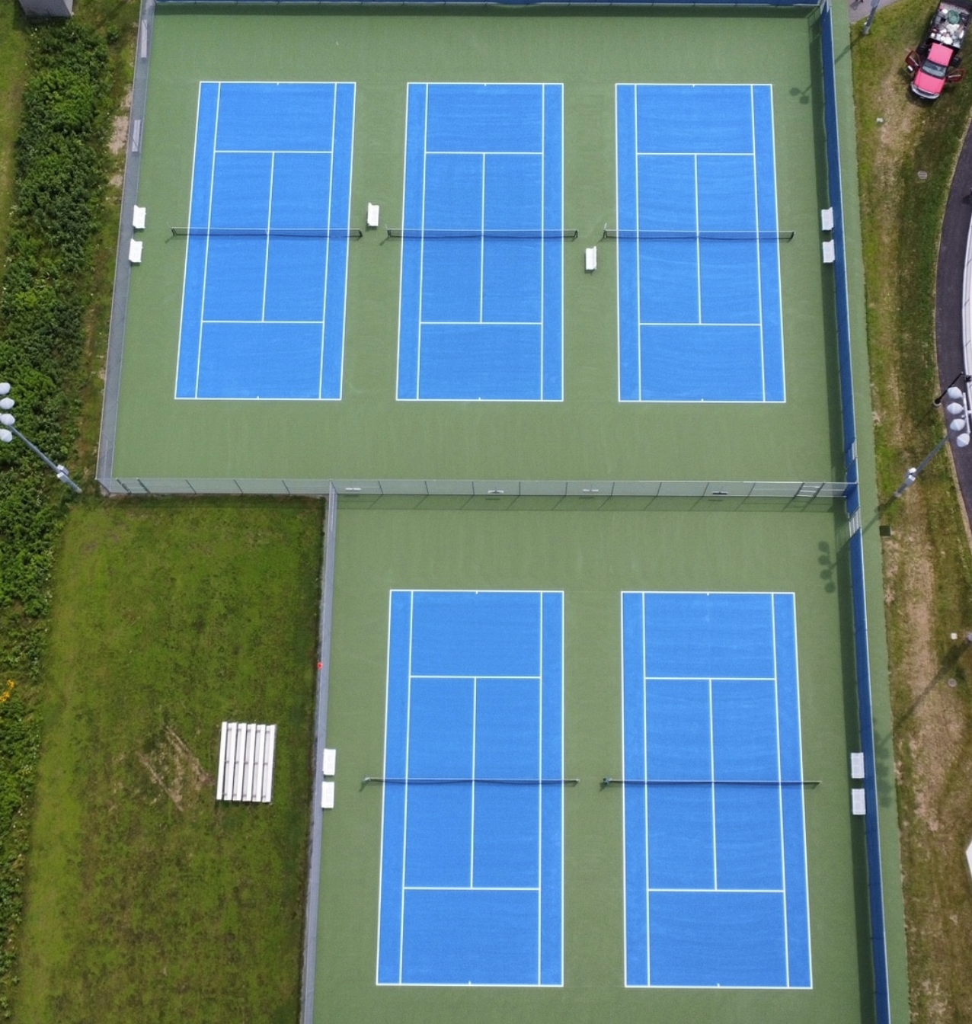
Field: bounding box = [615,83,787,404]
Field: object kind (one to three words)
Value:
tennis court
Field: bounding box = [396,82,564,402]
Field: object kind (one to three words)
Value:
tennis court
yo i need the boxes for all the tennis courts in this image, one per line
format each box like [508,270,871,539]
[376,590,564,988]
[396,82,564,402]
[615,83,787,404]
[620,591,813,991]
[175,81,356,401]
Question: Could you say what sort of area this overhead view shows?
sports ground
